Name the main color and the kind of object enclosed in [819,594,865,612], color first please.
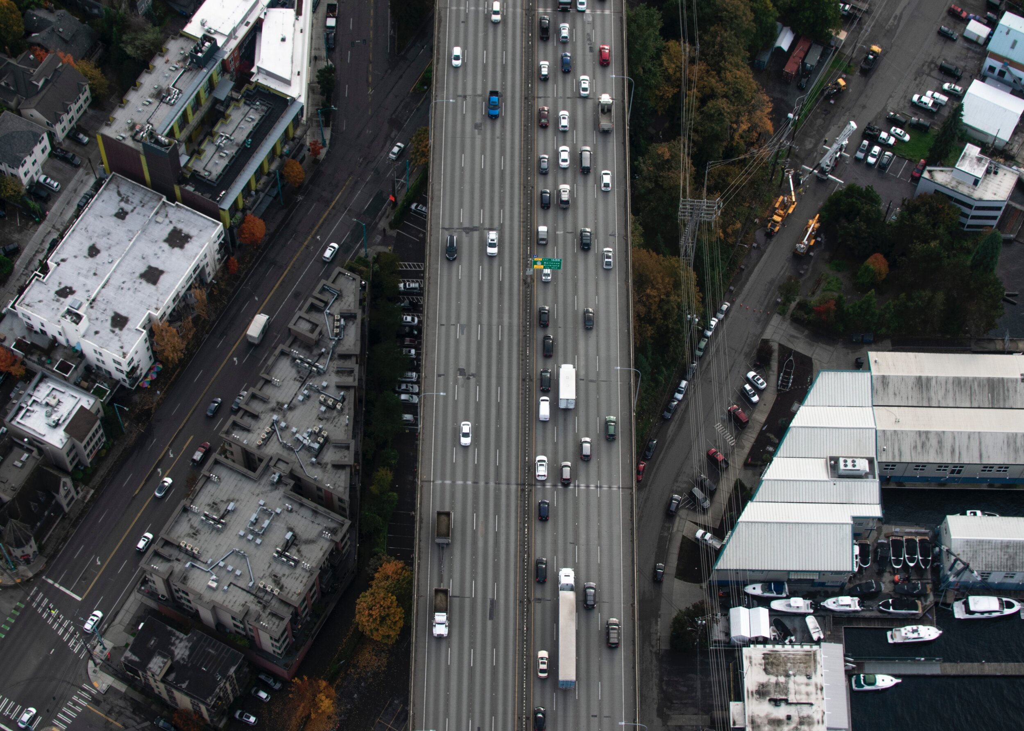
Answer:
white boat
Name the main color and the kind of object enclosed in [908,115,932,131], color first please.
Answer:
black car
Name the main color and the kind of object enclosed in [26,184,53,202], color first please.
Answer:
black vehicle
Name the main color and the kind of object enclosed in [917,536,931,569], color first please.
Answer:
black boat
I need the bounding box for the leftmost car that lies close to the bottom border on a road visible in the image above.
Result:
[16,706,38,731]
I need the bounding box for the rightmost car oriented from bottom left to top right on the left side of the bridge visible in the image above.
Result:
[388,143,405,162]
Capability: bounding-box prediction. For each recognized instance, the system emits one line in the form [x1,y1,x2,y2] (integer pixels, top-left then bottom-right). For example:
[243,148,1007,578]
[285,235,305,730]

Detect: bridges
[407,0,641,731]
